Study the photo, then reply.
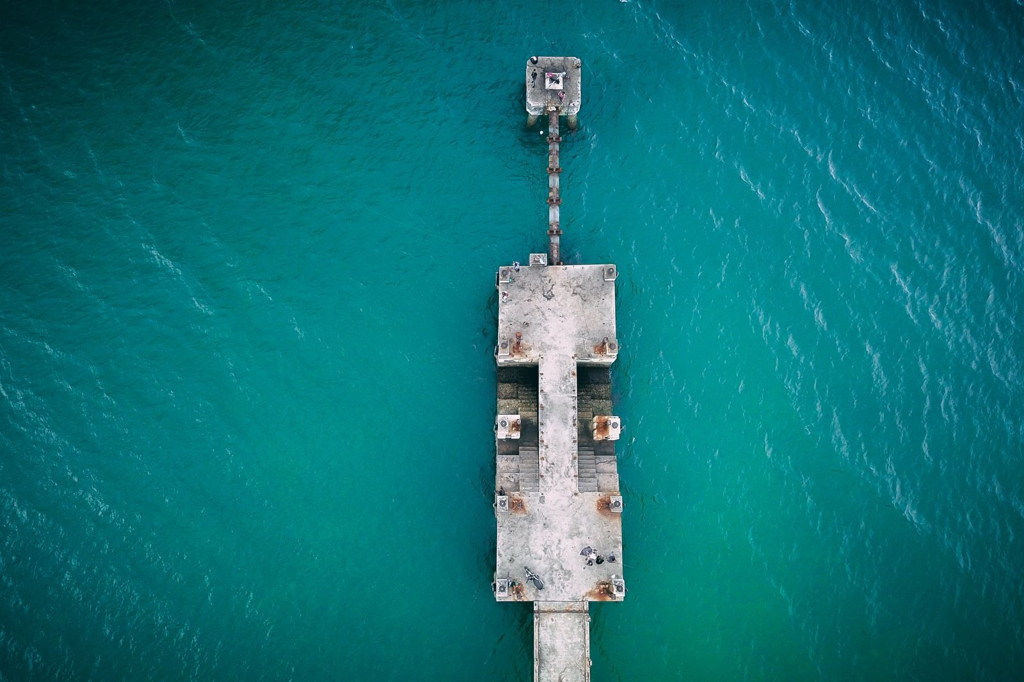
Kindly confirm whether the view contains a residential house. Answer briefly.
No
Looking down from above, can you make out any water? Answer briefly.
Yes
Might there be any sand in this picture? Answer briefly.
No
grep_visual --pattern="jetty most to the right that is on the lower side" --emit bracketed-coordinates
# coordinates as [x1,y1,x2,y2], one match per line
[591,416,620,441]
